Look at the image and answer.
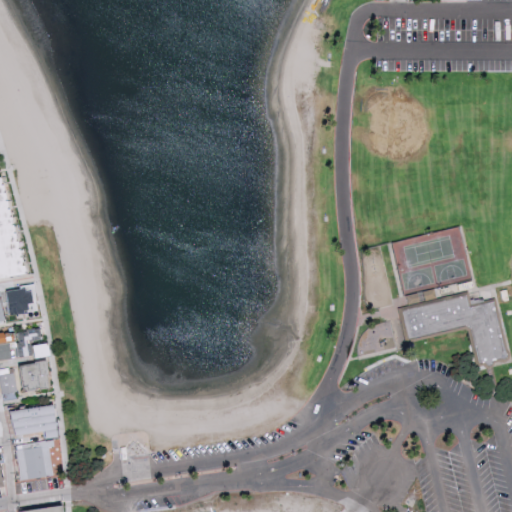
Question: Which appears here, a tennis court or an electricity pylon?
tennis court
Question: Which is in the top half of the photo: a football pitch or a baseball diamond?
baseball diamond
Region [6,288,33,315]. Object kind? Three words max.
house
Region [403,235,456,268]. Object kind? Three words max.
tennis court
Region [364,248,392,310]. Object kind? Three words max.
sports court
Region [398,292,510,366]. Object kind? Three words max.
building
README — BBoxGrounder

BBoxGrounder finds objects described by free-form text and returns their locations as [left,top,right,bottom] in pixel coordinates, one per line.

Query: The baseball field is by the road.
[354,88,428,158]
